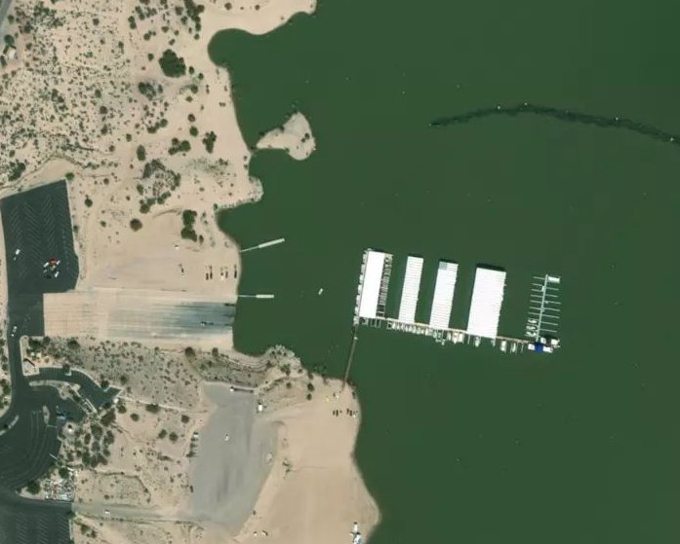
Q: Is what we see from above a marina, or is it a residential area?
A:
marina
